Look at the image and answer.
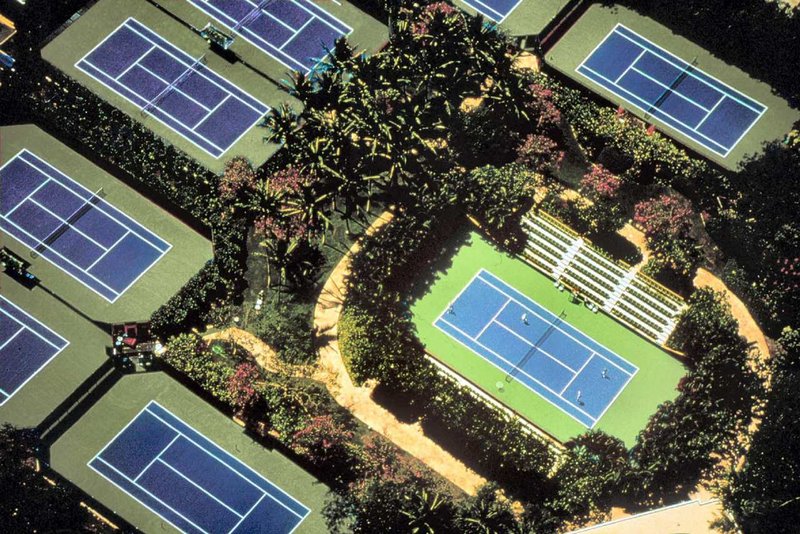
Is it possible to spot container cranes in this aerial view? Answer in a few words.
No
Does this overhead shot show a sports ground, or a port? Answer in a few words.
sports ground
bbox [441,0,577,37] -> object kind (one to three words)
tennis court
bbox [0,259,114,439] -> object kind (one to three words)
tennis court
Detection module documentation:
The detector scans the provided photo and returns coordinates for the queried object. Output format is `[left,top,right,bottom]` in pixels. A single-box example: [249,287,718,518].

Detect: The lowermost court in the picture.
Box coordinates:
[40,368,338,534]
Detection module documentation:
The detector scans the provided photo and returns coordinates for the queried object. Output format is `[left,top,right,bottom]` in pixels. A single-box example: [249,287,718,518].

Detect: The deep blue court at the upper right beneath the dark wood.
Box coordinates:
[538,0,800,173]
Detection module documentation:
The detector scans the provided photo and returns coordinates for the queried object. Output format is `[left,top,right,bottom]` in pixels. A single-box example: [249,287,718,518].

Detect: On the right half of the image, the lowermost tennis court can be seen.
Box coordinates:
[402,228,686,472]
